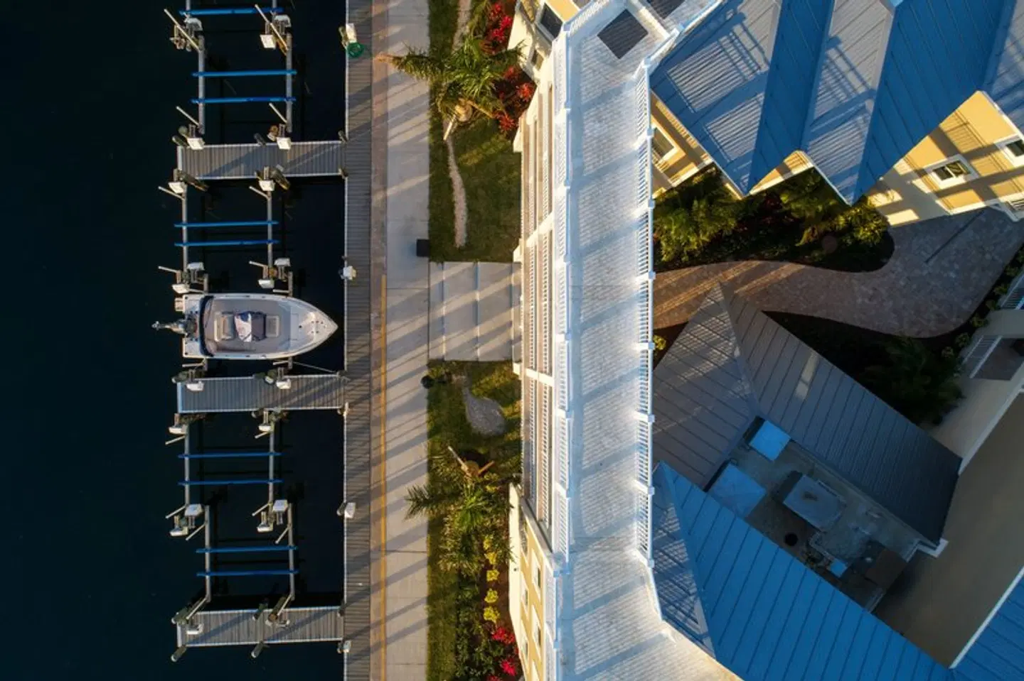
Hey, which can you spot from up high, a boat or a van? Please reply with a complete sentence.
Looking from above, you can make out a boat.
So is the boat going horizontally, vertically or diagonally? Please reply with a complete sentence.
What the image shows is the boat lying horizontally.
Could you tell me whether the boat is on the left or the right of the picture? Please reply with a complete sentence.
It is on the left.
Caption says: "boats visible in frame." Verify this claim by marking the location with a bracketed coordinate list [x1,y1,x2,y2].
[154,292,338,362]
